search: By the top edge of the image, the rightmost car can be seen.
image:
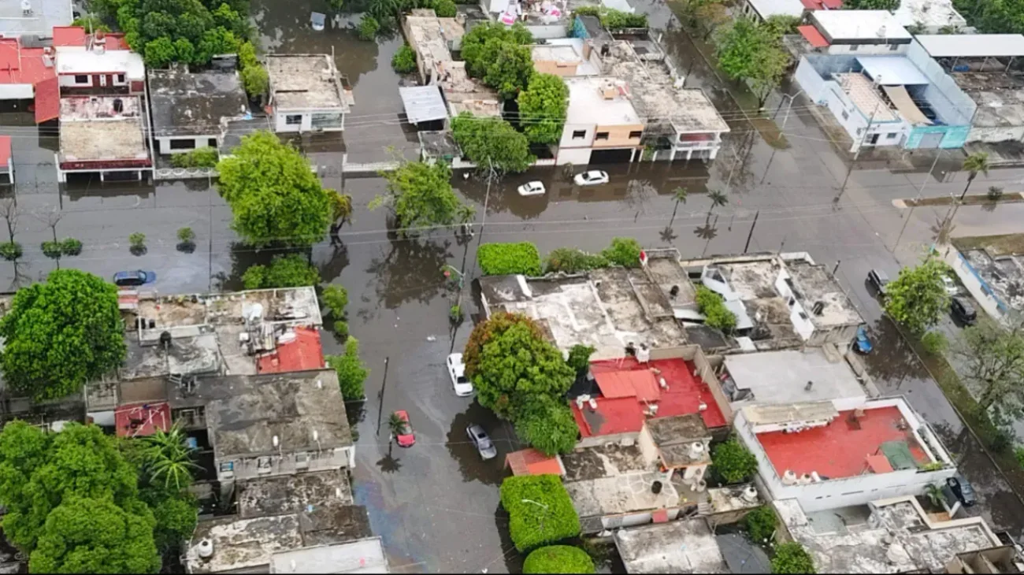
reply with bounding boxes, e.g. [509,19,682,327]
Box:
[310,10,325,29]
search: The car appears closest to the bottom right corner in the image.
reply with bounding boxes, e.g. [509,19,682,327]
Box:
[948,472,980,509]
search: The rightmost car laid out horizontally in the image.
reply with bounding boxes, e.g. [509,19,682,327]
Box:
[574,169,610,184]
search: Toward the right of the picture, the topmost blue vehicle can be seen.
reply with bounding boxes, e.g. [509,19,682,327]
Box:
[856,329,875,356]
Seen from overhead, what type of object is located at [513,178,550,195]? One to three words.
car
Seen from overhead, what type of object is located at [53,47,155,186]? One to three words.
house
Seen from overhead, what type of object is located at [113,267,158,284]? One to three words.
car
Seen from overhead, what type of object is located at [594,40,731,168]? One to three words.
house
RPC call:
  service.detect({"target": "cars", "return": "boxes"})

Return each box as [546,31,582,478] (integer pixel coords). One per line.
[310,10,325,29]
[465,421,498,459]
[574,169,610,184]
[856,329,875,356]
[513,178,550,195]
[448,357,472,392]
[72,0,83,19]
[393,412,417,445]
[113,267,158,284]
[866,266,895,297]
[948,293,978,324]
[948,472,980,509]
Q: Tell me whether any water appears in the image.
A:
Yes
